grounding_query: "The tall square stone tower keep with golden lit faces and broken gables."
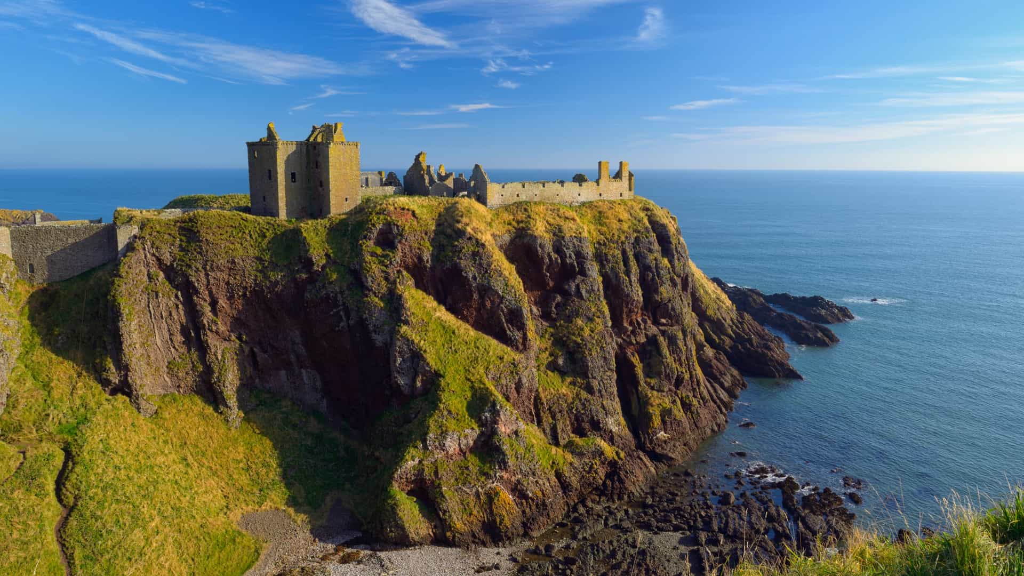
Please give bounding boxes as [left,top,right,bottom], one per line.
[244,123,361,218]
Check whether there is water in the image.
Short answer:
Yes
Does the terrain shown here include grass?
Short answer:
Yes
